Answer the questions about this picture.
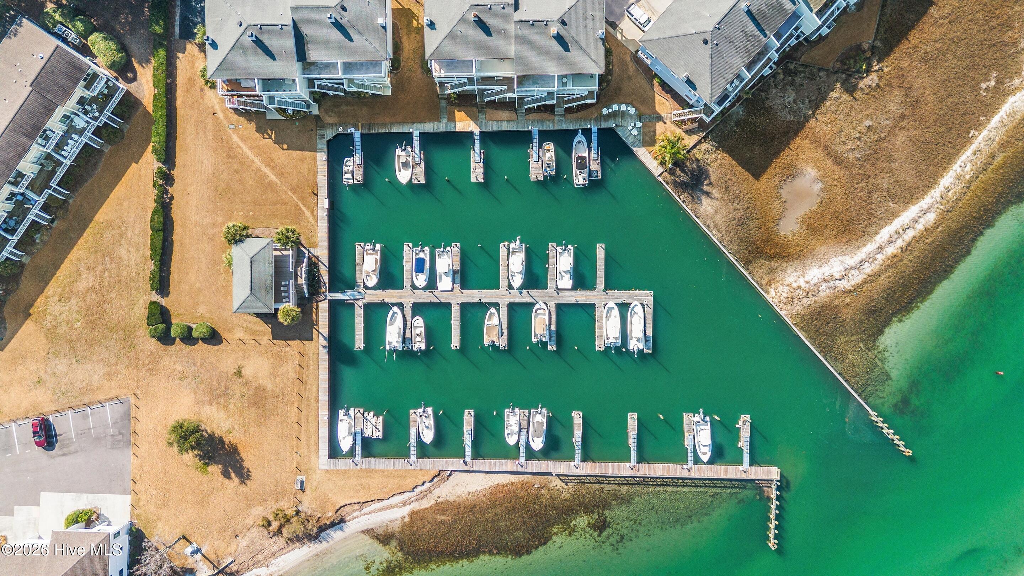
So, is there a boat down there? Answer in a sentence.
Yes, the image includes a boat.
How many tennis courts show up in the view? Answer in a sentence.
There are no tennis courts in this view.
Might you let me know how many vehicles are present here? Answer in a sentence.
There are 2 vehicles in the image.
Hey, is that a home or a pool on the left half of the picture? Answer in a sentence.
The feature located on the left half of the picture is a home.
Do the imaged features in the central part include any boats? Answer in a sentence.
Yes, a boat appears in the central part.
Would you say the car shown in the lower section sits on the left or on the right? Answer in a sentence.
The car shown in the lower section appears in the left half of the scene.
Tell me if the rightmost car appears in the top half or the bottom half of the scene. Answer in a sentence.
The rightmost car is in the top half of the image.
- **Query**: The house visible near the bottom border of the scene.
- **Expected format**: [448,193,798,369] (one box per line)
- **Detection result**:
[0,508,132,576]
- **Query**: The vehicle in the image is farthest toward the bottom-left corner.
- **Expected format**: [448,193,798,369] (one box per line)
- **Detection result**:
[29,415,49,447]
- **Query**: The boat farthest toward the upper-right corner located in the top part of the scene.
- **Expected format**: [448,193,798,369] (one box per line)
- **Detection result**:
[573,130,589,188]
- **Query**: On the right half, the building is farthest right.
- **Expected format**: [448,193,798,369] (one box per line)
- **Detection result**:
[633,0,851,127]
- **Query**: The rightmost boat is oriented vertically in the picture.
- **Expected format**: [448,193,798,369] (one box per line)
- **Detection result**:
[695,406,712,463]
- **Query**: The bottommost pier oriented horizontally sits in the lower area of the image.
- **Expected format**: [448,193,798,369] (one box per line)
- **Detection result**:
[319,456,782,481]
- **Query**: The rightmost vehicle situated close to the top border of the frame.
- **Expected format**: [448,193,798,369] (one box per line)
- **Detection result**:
[628,2,656,31]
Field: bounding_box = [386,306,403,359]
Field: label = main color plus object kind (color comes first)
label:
white boat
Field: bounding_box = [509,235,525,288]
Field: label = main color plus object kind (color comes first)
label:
white boat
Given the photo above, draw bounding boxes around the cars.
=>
[628,2,656,31]
[29,415,49,447]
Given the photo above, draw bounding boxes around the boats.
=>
[695,406,712,463]
[419,398,435,445]
[509,235,525,288]
[532,302,548,350]
[542,142,555,184]
[362,238,381,287]
[386,306,403,359]
[343,158,353,192]
[530,401,546,451]
[604,302,621,357]
[505,399,519,446]
[557,238,573,288]
[396,138,413,184]
[573,130,589,188]
[336,401,354,454]
[413,240,429,288]
[628,302,644,360]
[436,240,453,290]
[484,308,500,353]
[412,316,425,358]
